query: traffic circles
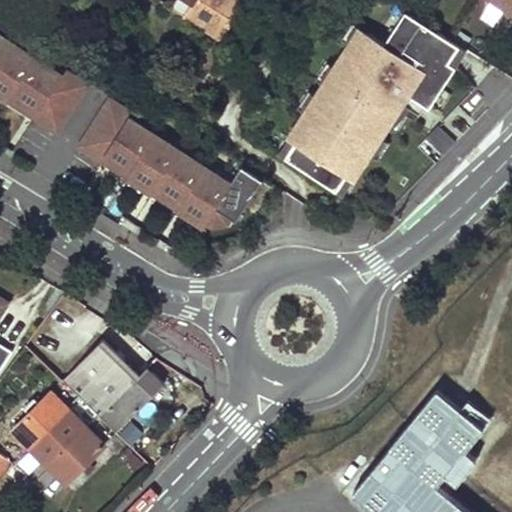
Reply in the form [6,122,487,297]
[162,240,392,442]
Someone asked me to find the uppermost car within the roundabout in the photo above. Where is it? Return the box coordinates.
[218,326,237,346]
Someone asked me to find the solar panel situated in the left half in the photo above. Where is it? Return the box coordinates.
[12,422,38,448]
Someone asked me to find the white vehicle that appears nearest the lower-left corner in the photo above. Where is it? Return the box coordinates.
[44,480,62,497]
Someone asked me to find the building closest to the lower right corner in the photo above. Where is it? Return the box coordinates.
[352,394,481,512]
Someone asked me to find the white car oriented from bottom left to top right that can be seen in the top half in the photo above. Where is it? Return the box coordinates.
[463,92,483,112]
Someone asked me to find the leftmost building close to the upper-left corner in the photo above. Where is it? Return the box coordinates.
[0,35,88,135]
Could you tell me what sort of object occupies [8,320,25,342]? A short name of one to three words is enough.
car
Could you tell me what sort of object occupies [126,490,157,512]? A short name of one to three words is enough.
bus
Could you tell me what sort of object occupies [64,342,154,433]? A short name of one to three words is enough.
building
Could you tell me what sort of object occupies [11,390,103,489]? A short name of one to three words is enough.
house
